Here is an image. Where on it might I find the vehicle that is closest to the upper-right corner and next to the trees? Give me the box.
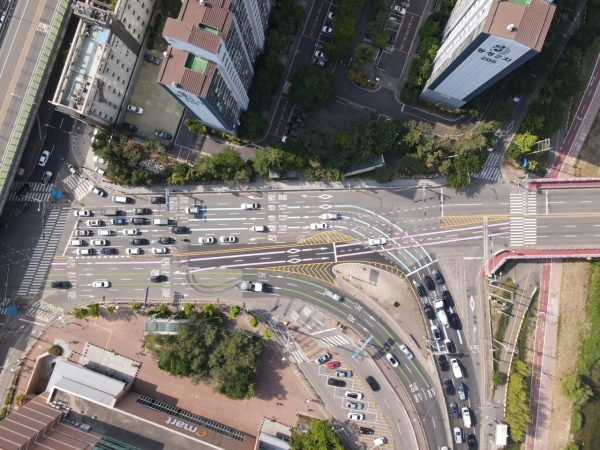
[509,90,524,107]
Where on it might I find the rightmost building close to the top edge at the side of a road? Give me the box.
[420,0,560,110]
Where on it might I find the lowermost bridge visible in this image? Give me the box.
[482,177,600,279]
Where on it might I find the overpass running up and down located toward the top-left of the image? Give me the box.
[0,0,75,212]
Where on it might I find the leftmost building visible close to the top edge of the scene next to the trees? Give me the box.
[55,0,154,130]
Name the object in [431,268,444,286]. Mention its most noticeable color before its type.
gray vehicle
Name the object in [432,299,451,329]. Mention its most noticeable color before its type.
white vehicle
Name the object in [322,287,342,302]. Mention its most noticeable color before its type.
white vehicle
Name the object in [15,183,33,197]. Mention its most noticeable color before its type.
black car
